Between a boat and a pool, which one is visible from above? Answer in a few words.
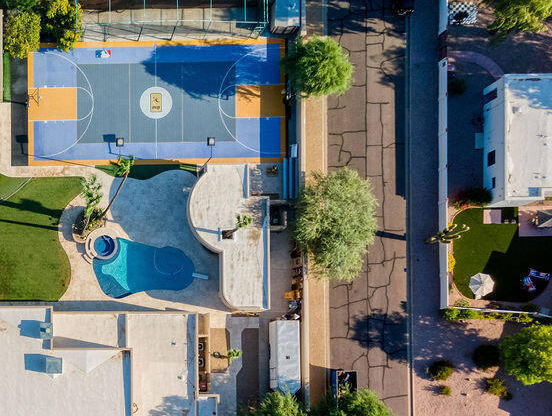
pool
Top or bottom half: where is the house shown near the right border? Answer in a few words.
top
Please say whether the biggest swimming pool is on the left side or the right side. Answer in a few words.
left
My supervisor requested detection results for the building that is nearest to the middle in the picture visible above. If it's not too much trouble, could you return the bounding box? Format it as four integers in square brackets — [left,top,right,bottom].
[185,164,270,311]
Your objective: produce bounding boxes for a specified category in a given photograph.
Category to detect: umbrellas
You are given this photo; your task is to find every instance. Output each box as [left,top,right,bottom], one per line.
[467,273,493,298]
[535,210,552,229]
